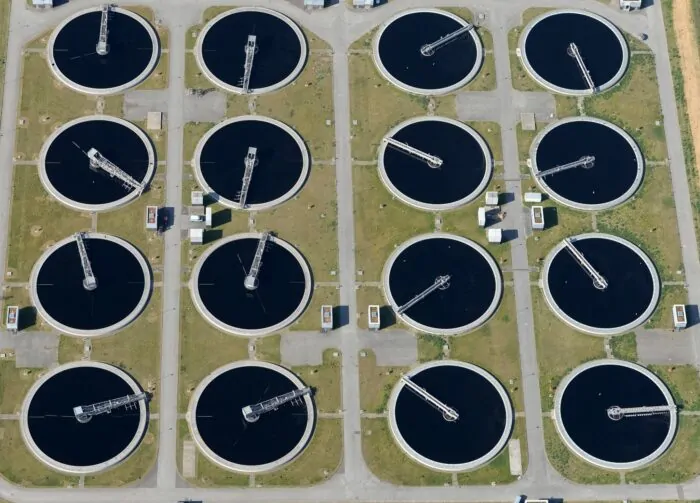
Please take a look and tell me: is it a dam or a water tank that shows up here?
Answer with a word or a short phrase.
water tank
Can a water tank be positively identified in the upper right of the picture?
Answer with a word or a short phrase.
Yes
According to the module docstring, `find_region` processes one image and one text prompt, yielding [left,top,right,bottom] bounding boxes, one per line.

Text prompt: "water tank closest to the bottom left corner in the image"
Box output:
[20,362,148,474]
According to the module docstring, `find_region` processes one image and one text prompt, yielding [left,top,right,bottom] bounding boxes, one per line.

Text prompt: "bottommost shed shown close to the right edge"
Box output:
[671,303,688,331]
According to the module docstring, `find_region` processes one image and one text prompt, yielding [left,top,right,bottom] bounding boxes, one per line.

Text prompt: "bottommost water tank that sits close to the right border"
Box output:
[549,359,678,470]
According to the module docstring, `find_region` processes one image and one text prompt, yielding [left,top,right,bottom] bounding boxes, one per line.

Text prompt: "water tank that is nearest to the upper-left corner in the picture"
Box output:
[46,2,159,95]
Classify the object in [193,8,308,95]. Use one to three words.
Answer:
water tank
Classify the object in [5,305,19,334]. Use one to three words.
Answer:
shed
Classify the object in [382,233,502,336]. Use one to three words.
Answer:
water tank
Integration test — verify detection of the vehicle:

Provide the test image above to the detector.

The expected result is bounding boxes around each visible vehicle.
[191,215,202,221]
[515,495,522,503]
